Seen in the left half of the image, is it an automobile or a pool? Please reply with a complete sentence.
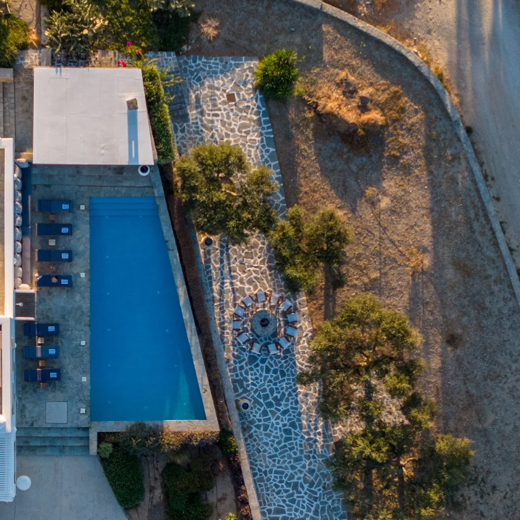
You can see a pool in the left half of the image.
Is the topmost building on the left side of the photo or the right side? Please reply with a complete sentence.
You can find the topmost building on the left side of the picture.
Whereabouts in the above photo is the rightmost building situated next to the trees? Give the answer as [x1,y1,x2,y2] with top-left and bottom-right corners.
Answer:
[33,67,154,167]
